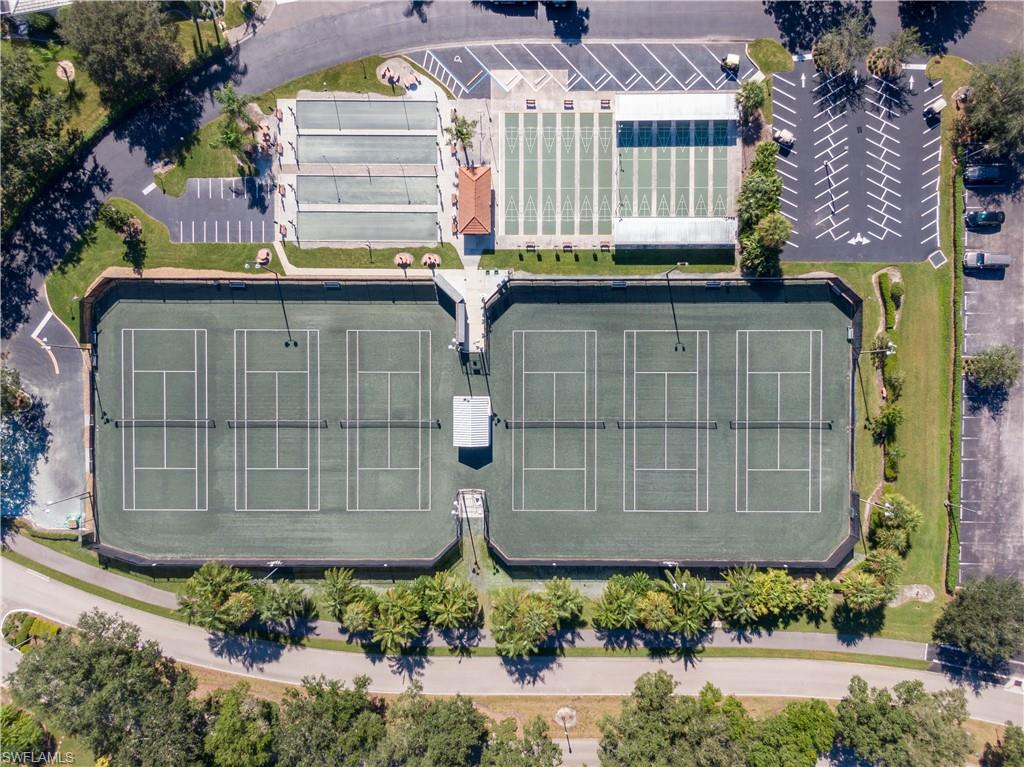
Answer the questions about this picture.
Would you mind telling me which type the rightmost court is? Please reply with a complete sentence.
The rightmost court in the image is a tennis court.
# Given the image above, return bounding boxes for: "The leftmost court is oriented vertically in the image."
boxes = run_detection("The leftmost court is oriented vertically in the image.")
[123,329,207,512]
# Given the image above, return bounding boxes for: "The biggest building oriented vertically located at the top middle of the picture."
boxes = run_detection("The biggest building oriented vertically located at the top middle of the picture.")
[458,166,492,234]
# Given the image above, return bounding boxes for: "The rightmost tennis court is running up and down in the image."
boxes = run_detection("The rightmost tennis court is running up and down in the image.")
[736,329,821,512]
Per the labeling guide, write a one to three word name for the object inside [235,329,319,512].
tennis court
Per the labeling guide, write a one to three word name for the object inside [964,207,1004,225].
car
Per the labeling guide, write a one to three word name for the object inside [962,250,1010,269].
vehicle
